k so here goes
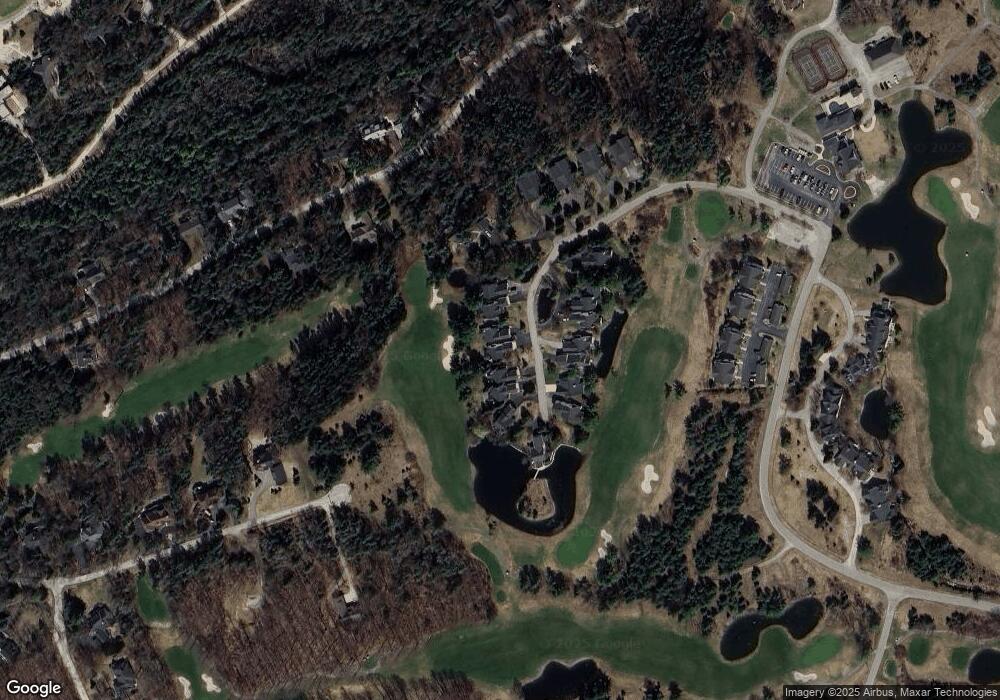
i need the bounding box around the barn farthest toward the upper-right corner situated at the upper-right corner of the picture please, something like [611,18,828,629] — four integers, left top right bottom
[864,36,906,73]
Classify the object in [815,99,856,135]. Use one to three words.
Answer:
building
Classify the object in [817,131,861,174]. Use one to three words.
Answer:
building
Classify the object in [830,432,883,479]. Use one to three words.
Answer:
house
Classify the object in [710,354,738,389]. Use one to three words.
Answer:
house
